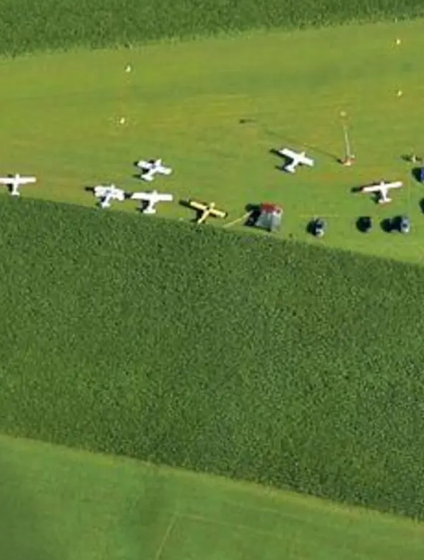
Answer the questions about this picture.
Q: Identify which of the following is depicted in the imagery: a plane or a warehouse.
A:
plane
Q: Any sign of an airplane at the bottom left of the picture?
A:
No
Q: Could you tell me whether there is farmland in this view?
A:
Yes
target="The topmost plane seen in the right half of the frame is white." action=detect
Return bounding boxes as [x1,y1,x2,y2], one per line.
[279,148,315,173]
